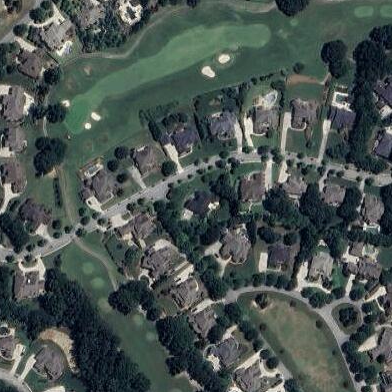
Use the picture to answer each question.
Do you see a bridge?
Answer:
No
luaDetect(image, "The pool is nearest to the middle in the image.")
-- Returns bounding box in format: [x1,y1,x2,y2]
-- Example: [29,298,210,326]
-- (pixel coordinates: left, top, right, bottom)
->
[80,163,104,182]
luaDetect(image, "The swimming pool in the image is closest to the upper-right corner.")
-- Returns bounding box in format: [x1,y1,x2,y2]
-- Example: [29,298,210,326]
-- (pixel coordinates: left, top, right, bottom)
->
[331,92,349,106]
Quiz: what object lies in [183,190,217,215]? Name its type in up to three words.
house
